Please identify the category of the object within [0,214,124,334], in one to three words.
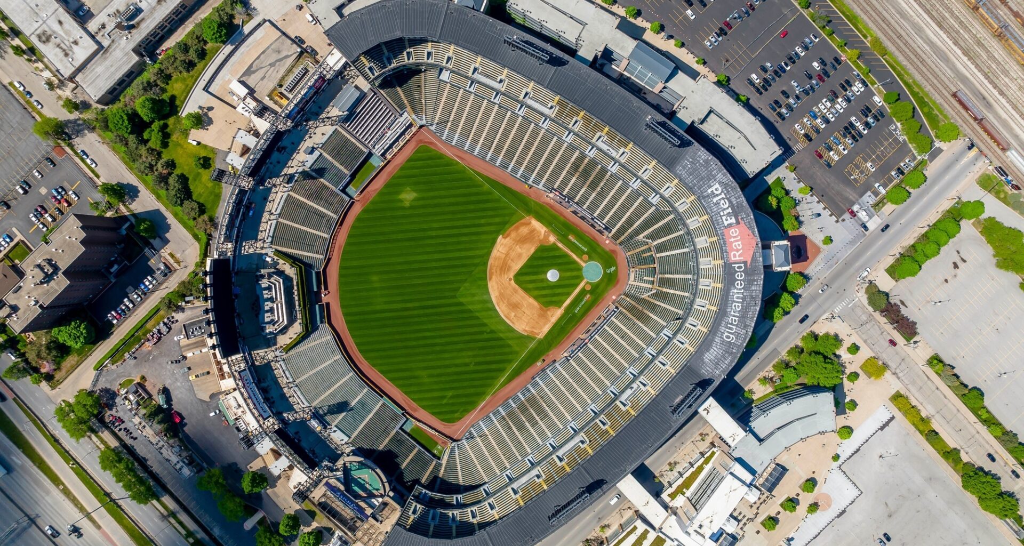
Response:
building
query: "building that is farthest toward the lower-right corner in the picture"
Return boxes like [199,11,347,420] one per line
[730,384,836,483]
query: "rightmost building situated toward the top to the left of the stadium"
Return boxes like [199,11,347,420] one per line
[75,0,199,106]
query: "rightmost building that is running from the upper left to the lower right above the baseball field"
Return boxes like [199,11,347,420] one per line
[601,42,679,110]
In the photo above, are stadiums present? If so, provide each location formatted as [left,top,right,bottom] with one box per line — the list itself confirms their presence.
[198,0,764,546]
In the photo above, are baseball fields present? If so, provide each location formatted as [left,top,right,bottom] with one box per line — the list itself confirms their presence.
[320,126,628,442]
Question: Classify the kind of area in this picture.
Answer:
sports ground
